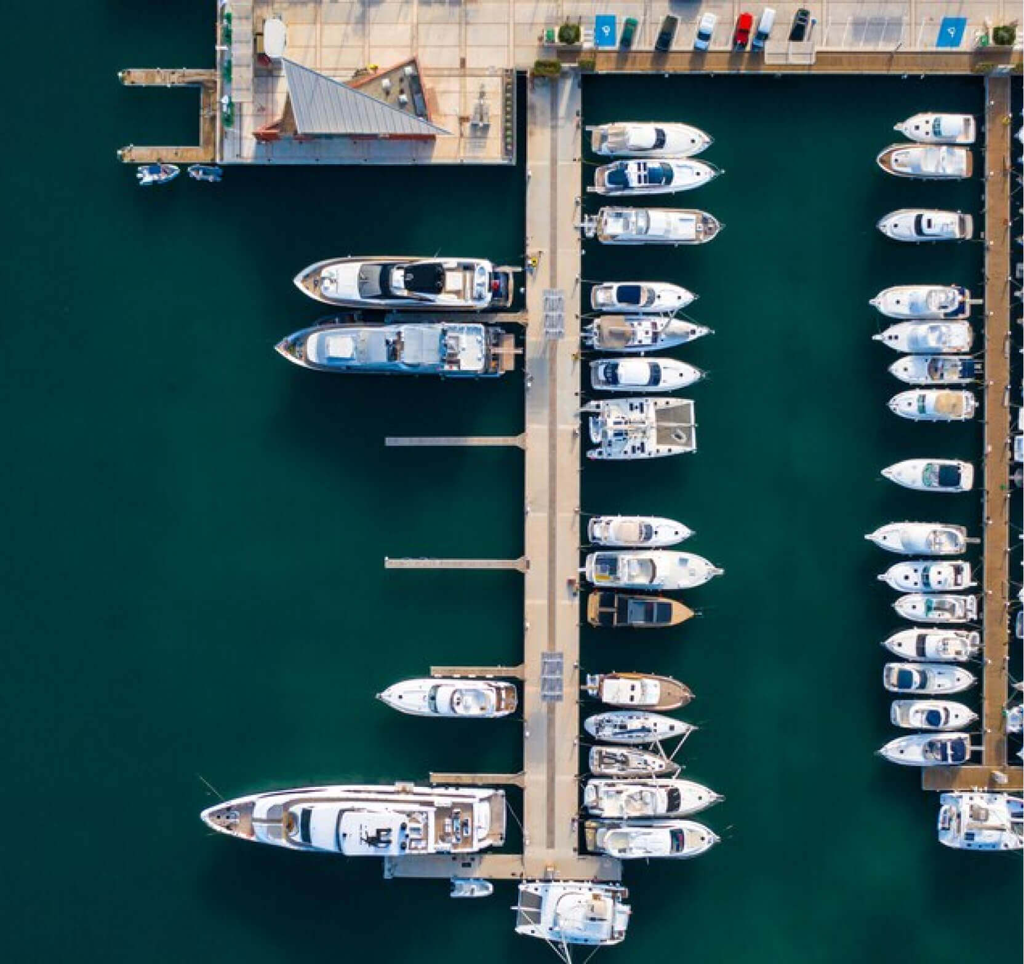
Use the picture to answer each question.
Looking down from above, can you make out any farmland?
No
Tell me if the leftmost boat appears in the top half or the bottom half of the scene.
top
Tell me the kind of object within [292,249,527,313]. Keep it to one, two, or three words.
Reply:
boat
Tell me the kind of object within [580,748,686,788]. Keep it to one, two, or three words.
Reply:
boat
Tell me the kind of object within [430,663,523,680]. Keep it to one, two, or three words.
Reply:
pier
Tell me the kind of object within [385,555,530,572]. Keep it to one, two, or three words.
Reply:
pier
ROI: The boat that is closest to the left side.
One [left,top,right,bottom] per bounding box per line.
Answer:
[133,163,179,183]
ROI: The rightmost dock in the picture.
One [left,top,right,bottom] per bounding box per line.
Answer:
[921,75,1024,790]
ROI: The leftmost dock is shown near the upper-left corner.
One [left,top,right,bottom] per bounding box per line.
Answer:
[118,66,219,164]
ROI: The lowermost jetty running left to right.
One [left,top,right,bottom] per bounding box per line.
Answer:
[429,769,522,787]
